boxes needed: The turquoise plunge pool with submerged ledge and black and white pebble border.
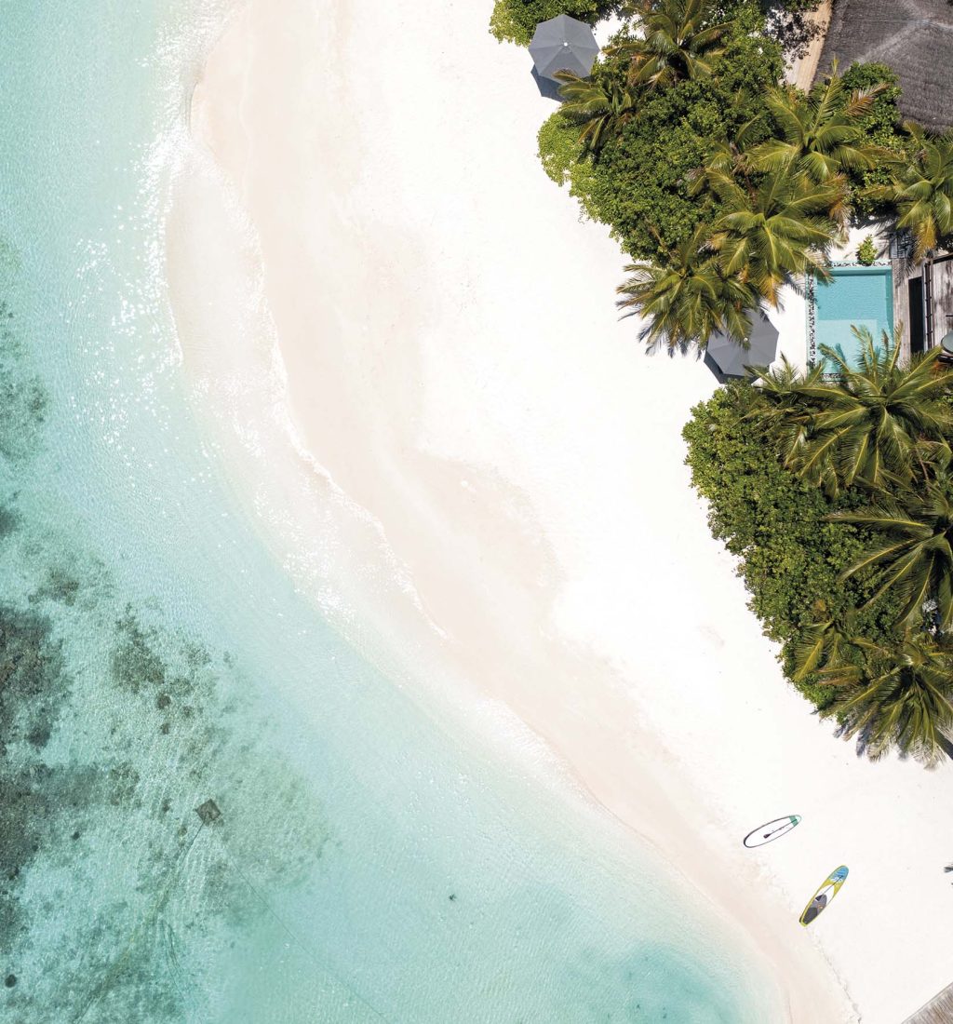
[806,260,894,382]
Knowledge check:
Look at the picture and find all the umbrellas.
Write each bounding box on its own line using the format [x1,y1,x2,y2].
[529,13,600,84]
[708,312,778,381]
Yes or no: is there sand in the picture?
Yes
